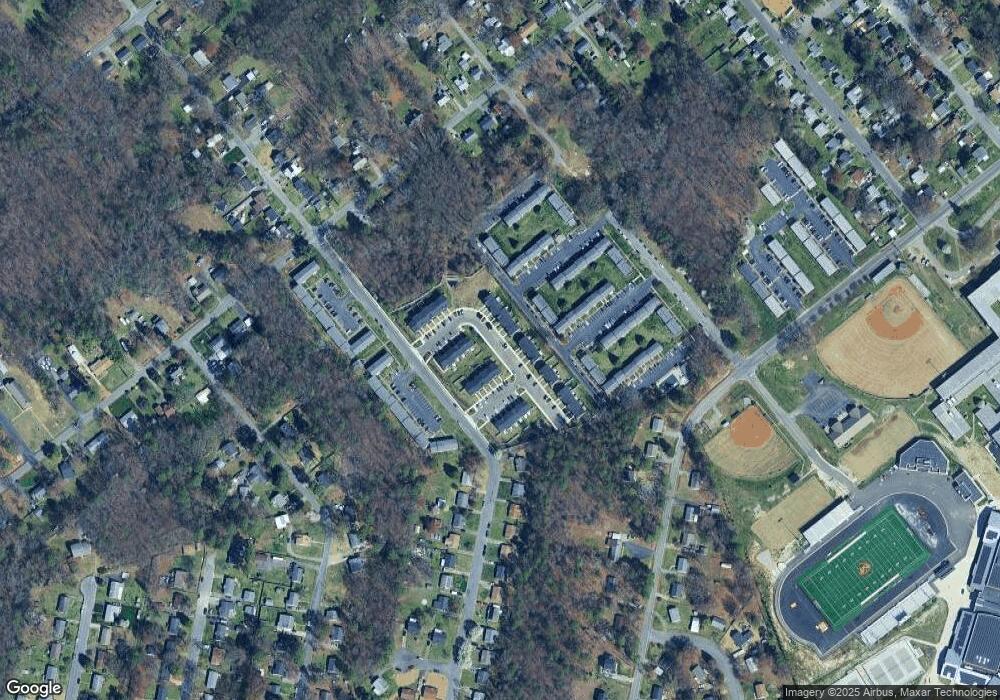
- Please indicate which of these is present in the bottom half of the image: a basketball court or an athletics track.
athletics track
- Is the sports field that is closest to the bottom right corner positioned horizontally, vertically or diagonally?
diagonally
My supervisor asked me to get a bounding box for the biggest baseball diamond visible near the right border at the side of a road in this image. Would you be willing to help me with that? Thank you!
[816,274,971,398]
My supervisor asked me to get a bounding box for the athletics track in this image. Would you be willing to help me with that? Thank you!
[777,492,959,658]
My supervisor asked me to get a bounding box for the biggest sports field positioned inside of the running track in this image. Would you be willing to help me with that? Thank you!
[798,506,932,630]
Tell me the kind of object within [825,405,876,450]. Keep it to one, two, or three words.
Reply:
building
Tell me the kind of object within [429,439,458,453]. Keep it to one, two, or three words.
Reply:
building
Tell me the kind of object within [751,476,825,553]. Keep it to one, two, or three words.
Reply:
sports field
